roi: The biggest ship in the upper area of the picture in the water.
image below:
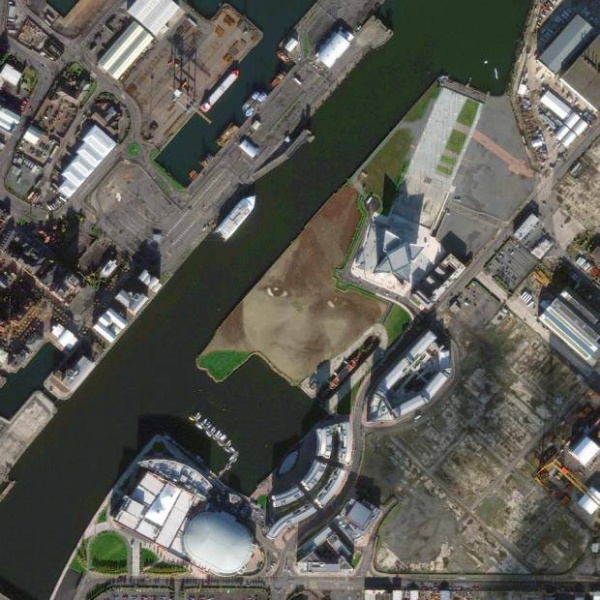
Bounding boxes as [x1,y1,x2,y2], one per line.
[217,196,255,240]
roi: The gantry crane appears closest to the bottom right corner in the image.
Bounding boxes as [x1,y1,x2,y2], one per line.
[535,452,600,508]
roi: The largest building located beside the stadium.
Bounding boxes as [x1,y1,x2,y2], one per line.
[108,469,205,560]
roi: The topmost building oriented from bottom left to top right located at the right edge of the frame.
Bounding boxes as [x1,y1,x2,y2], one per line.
[539,14,592,76]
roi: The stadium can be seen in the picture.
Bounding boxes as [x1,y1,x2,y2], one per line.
[183,510,254,581]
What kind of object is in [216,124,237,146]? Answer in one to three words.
ship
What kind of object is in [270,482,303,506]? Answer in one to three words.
building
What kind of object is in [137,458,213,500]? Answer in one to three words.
building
